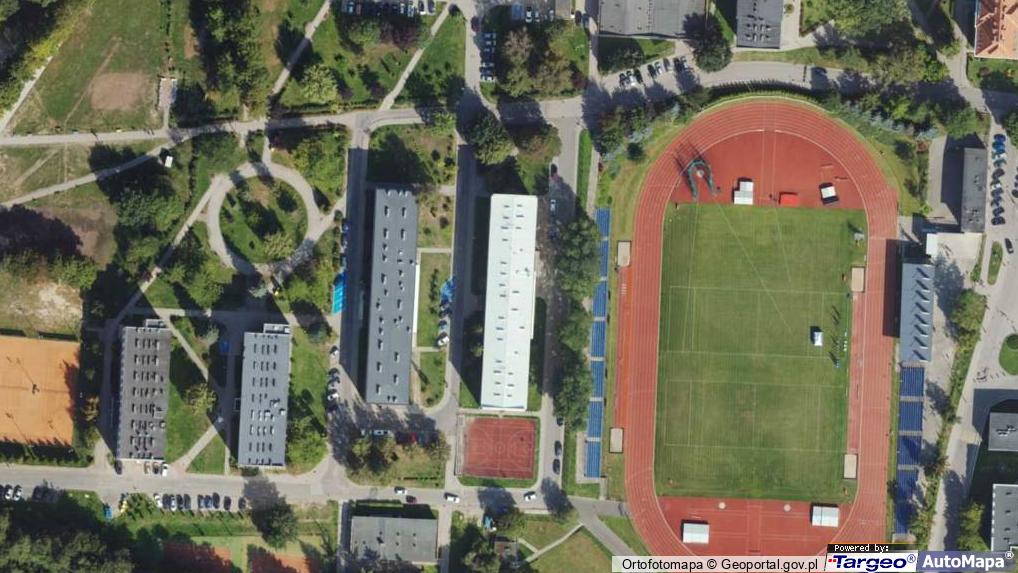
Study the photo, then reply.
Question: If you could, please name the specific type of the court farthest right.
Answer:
basketball court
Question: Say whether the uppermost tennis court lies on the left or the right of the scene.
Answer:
left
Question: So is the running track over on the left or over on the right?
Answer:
right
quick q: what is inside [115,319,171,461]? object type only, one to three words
building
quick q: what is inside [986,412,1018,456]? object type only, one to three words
building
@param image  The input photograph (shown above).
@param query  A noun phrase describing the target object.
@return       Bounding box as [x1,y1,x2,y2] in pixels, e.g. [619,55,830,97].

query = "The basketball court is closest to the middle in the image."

[463,417,536,479]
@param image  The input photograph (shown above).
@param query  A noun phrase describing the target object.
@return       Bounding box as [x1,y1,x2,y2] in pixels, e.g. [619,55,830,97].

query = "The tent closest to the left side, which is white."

[683,524,709,544]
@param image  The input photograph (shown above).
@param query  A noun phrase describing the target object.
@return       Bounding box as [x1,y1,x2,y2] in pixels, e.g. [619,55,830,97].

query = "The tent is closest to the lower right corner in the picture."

[812,506,838,527]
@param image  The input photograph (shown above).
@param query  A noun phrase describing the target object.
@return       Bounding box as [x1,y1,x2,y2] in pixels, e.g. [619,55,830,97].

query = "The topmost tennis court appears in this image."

[0,335,80,447]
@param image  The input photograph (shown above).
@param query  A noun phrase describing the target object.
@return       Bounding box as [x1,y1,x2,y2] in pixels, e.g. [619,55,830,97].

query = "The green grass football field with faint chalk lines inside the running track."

[655,200,868,502]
